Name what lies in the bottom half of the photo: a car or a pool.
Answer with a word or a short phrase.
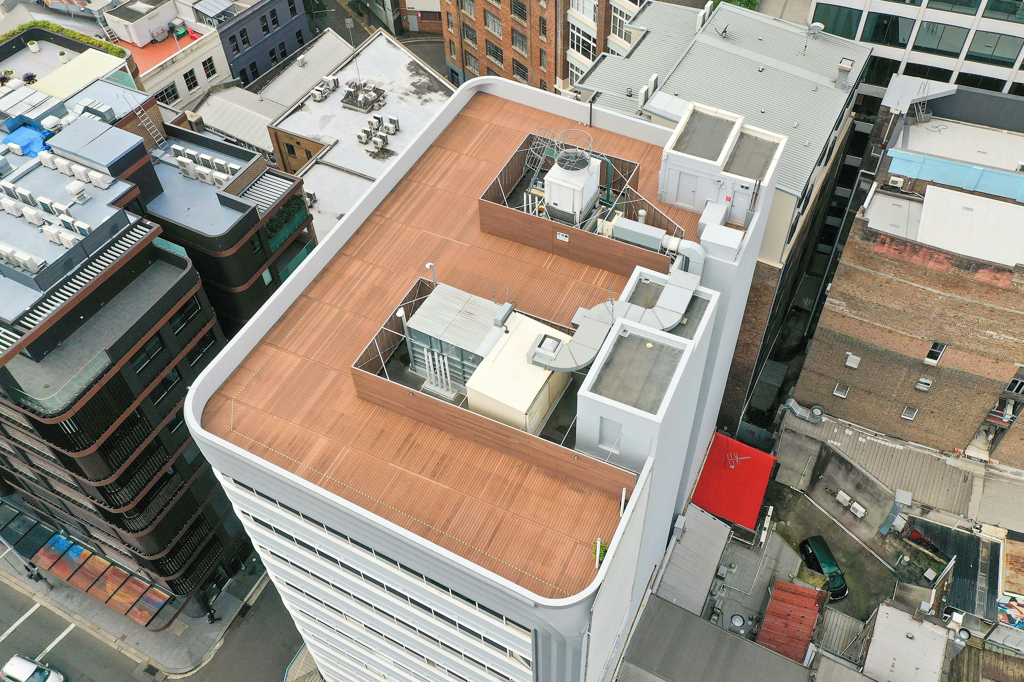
car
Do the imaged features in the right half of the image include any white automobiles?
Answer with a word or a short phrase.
No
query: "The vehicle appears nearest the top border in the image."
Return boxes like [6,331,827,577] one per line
[800,536,848,605]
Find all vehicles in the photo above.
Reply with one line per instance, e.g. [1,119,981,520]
[800,536,848,605]
[0,653,62,682]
